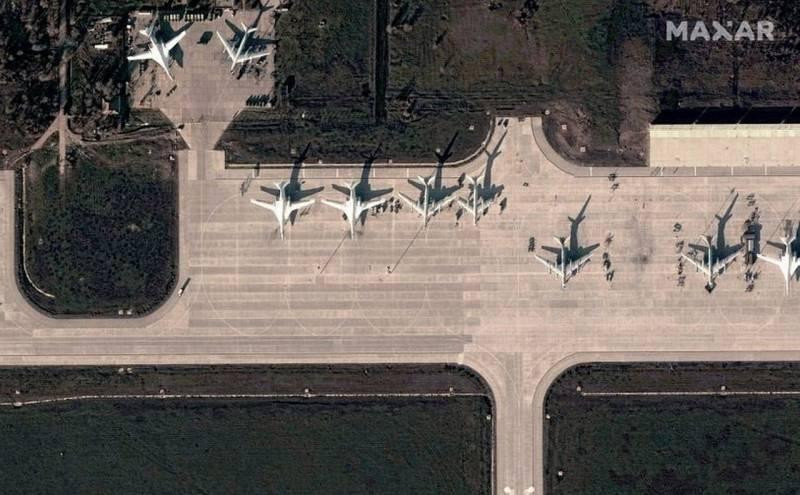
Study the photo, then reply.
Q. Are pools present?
No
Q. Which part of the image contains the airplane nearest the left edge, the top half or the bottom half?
top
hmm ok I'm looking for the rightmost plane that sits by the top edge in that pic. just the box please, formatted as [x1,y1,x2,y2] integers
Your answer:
[216,21,270,73]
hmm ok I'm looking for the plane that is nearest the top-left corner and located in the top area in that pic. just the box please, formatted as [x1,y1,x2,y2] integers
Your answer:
[124,23,182,80]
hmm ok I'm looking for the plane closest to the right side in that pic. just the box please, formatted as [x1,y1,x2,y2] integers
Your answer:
[756,233,800,295]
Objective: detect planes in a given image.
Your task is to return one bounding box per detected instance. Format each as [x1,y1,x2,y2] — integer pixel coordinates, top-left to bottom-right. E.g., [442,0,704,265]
[398,173,455,227]
[681,235,739,290]
[124,23,182,80]
[320,179,384,240]
[250,180,313,240]
[756,233,800,295]
[534,234,591,289]
[216,21,270,73]
[458,172,491,226]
